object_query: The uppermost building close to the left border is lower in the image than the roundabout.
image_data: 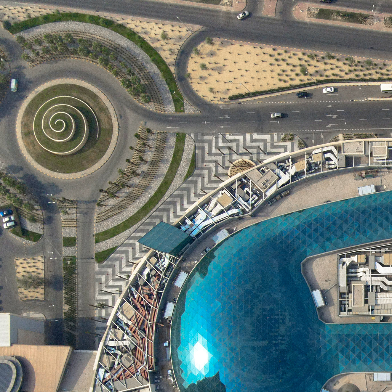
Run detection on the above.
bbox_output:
[0,313,58,348]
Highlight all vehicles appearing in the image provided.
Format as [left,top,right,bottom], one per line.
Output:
[381,83,392,93]
[322,87,335,93]
[0,210,13,217]
[296,92,309,98]
[238,11,250,21]
[270,112,283,119]
[3,222,17,229]
[3,217,16,222]
[11,78,19,93]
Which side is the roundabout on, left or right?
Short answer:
left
